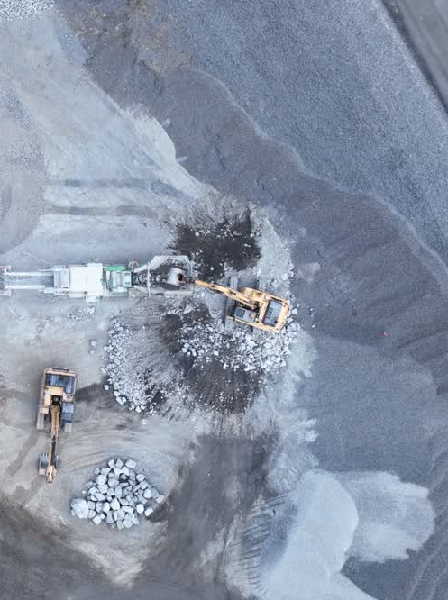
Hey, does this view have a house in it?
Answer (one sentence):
No, there's no house here.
